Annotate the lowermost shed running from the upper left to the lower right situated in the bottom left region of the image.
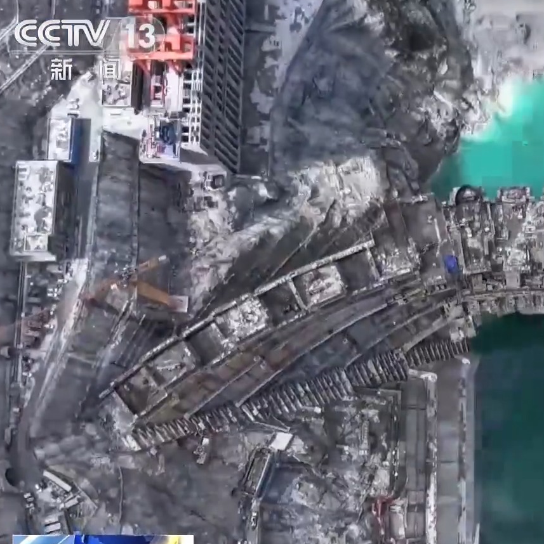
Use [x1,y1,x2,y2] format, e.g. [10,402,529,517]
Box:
[43,468,76,492]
